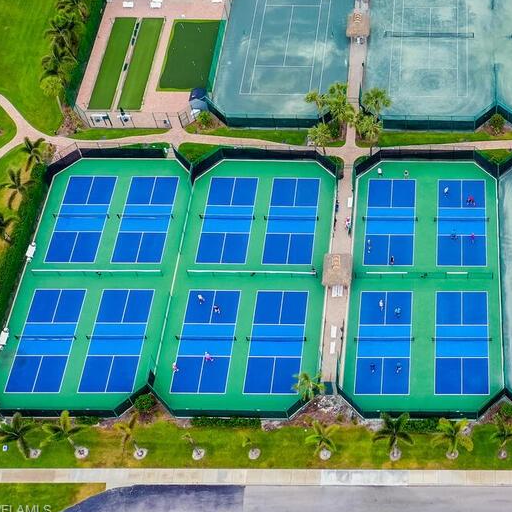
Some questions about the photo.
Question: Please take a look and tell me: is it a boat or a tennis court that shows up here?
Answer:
tennis court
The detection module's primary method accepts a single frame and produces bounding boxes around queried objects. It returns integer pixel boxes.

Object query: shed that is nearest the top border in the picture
[344,14,374,47]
